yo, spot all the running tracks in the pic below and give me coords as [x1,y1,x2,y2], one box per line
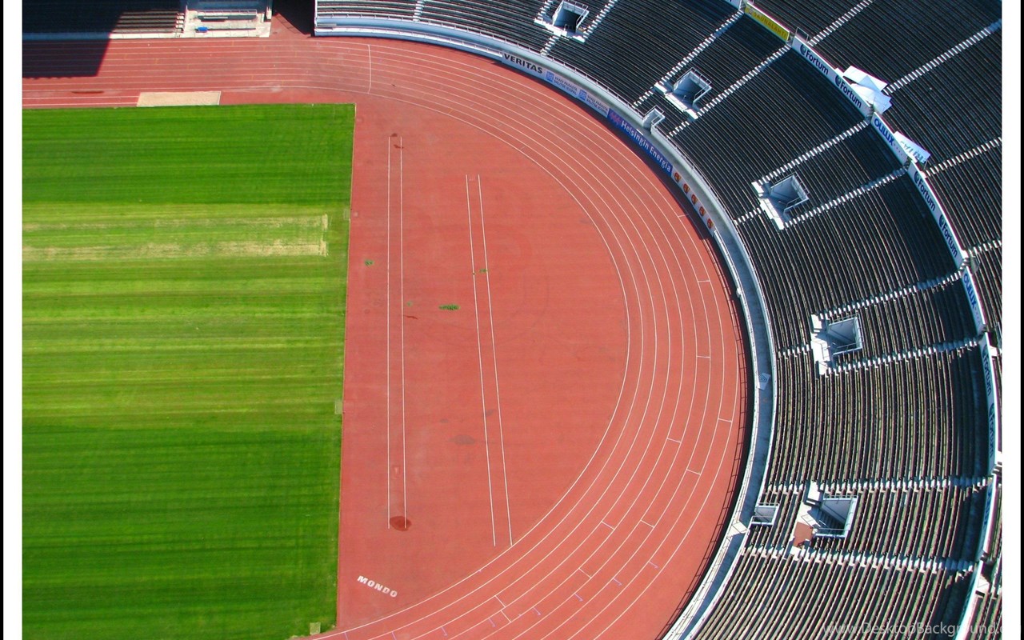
[0,21,774,640]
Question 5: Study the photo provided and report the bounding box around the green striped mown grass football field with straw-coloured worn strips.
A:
[0,102,354,640]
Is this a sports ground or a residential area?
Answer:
sports ground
